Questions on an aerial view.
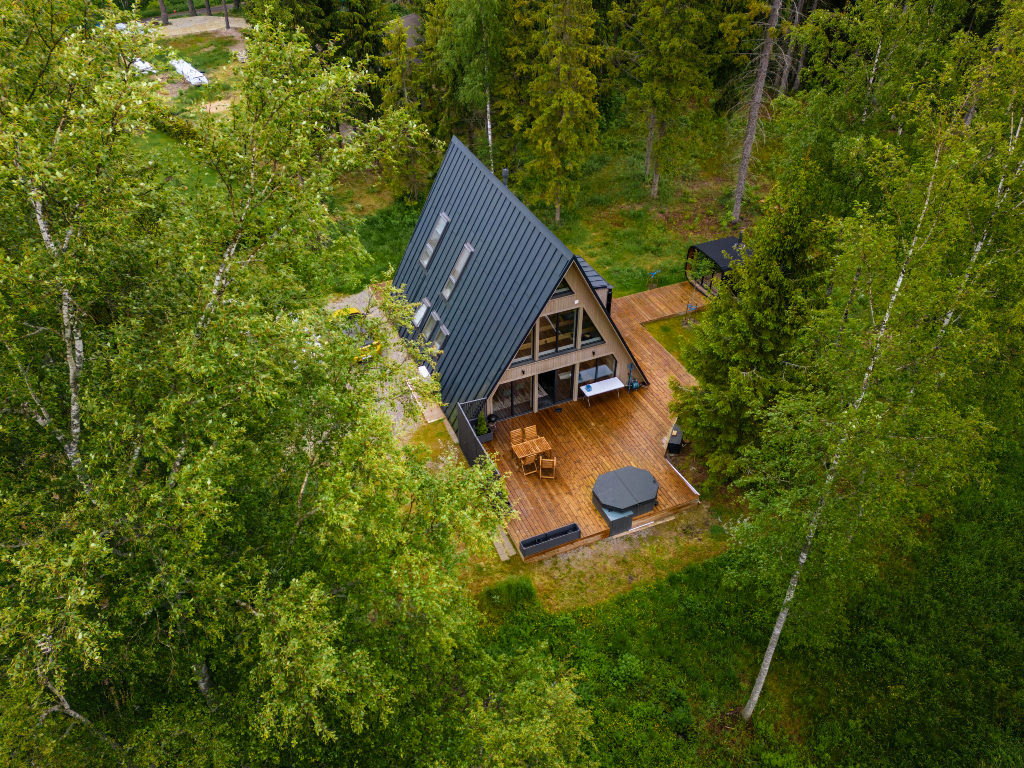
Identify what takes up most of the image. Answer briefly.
trees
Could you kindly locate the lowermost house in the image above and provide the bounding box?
[383,134,651,455]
